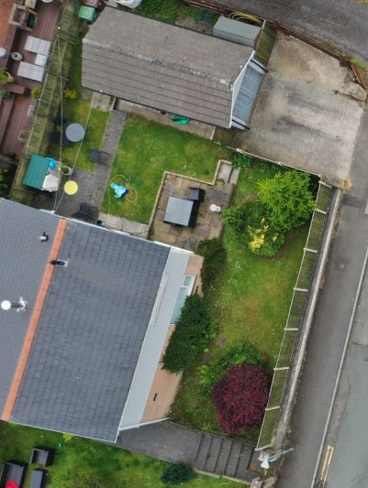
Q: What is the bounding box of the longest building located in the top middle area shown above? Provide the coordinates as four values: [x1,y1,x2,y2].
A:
[80,6,269,136]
